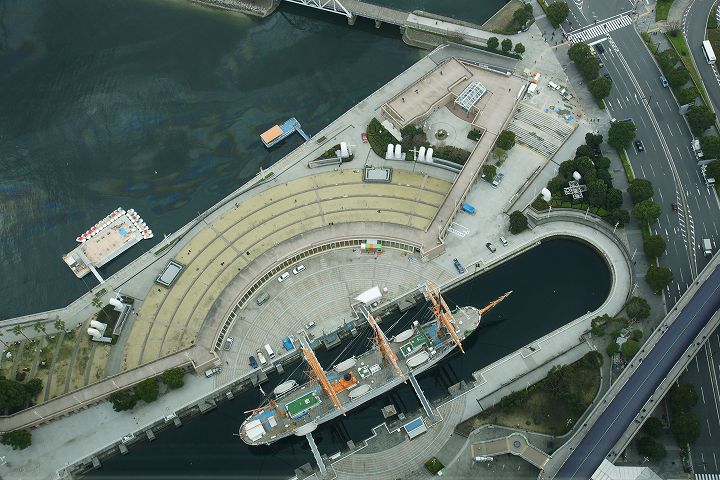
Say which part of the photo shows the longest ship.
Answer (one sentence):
The longest ship sits in the bottom section of the image.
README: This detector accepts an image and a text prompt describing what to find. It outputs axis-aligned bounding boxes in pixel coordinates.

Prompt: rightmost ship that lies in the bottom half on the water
[233,282,510,444]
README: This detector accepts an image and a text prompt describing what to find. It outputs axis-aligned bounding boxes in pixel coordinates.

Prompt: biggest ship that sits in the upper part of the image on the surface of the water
[260,118,311,148]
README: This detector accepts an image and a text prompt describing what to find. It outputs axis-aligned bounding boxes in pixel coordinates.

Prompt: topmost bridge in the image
[298,0,410,37]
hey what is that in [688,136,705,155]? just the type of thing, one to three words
vehicle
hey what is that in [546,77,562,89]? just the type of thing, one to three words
vehicle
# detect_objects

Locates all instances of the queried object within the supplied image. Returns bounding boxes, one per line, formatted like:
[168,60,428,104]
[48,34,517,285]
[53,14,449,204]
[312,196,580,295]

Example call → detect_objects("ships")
[260,118,311,148]
[233,282,510,444]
